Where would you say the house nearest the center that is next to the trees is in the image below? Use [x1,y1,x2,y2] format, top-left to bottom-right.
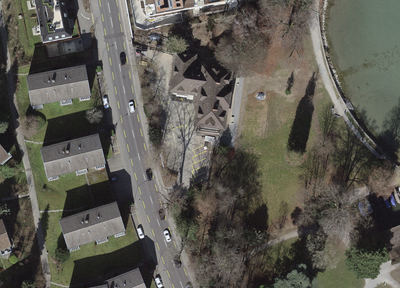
[168,52,234,142]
